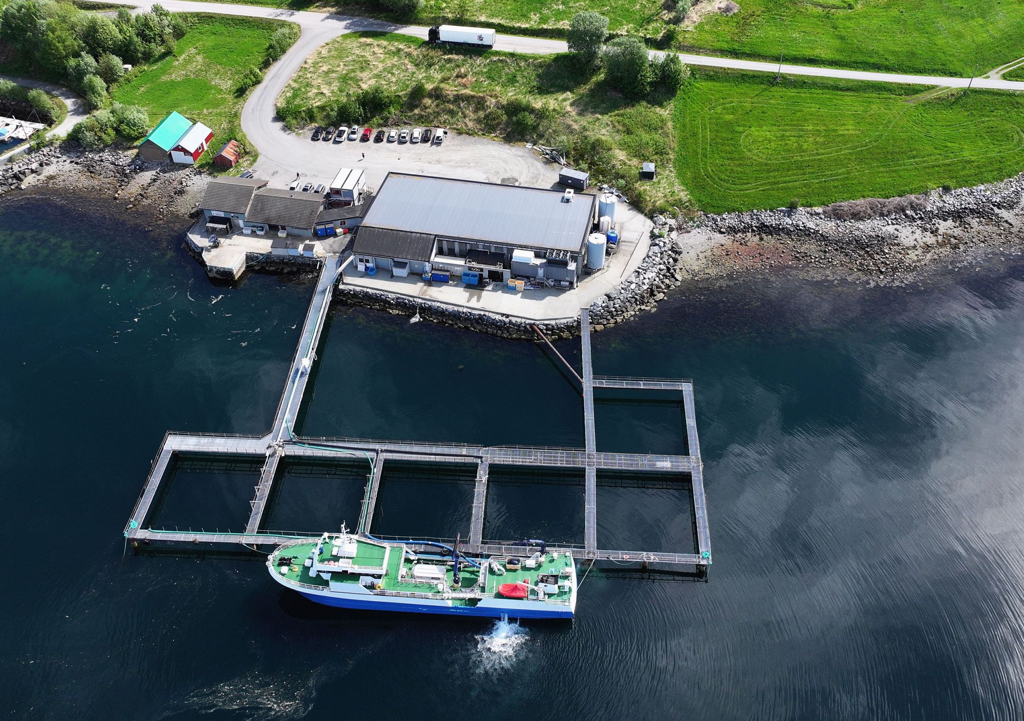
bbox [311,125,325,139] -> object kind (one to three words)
car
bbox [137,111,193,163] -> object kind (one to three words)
building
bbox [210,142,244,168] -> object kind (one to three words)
shed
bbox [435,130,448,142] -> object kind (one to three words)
vehicle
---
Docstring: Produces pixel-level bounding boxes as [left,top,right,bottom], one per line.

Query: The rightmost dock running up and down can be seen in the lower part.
[579,309,597,559]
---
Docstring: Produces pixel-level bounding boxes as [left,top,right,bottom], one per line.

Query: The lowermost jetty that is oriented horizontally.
[122,375,713,570]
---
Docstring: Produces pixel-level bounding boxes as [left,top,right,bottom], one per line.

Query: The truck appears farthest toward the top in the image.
[429,26,495,50]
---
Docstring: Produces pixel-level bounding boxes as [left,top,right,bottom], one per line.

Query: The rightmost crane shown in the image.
[485,538,549,564]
